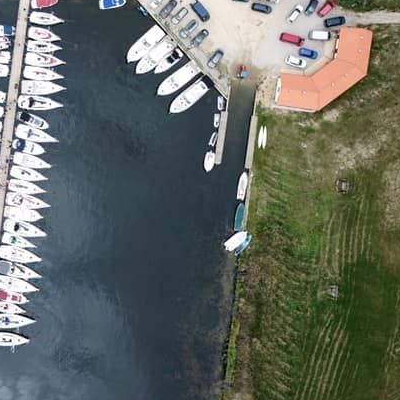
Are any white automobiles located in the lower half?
No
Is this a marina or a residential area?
marina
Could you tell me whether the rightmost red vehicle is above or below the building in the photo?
above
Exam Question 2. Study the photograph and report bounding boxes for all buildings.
[274,27,372,110]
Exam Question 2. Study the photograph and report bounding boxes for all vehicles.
[191,0,211,22]
[315,0,337,20]
[285,5,303,24]
[205,49,225,69]
[170,7,188,25]
[250,2,272,14]
[235,60,250,78]
[189,28,209,48]
[307,31,330,40]
[278,32,304,48]
[283,55,305,68]
[322,16,345,28]
[297,47,318,60]
[177,19,199,40]
[303,0,317,17]
[157,0,176,20]
[149,0,163,9]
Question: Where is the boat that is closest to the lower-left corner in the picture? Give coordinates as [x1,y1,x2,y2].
[0,331,30,349]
